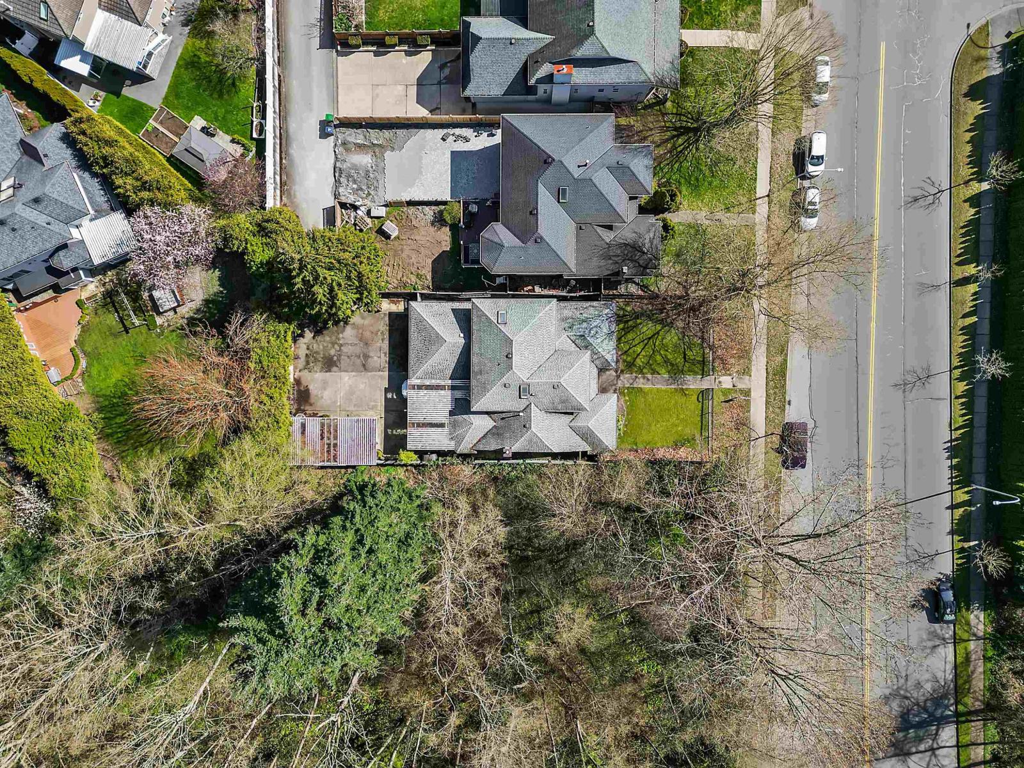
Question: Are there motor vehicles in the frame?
Yes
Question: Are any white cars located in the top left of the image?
No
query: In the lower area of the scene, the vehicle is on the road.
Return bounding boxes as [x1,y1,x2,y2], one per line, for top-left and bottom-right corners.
[930,583,957,624]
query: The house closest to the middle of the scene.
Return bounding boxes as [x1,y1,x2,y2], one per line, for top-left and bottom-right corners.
[408,297,618,457]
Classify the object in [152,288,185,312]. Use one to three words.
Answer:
shed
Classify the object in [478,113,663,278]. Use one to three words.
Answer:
house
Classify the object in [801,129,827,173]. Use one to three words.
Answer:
car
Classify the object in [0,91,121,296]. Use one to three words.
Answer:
house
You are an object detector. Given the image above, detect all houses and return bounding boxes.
[0,0,183,58]
[461,0,681,111]
[408,297,618,457]
[478,113,663,278]
[0,91,121,296]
